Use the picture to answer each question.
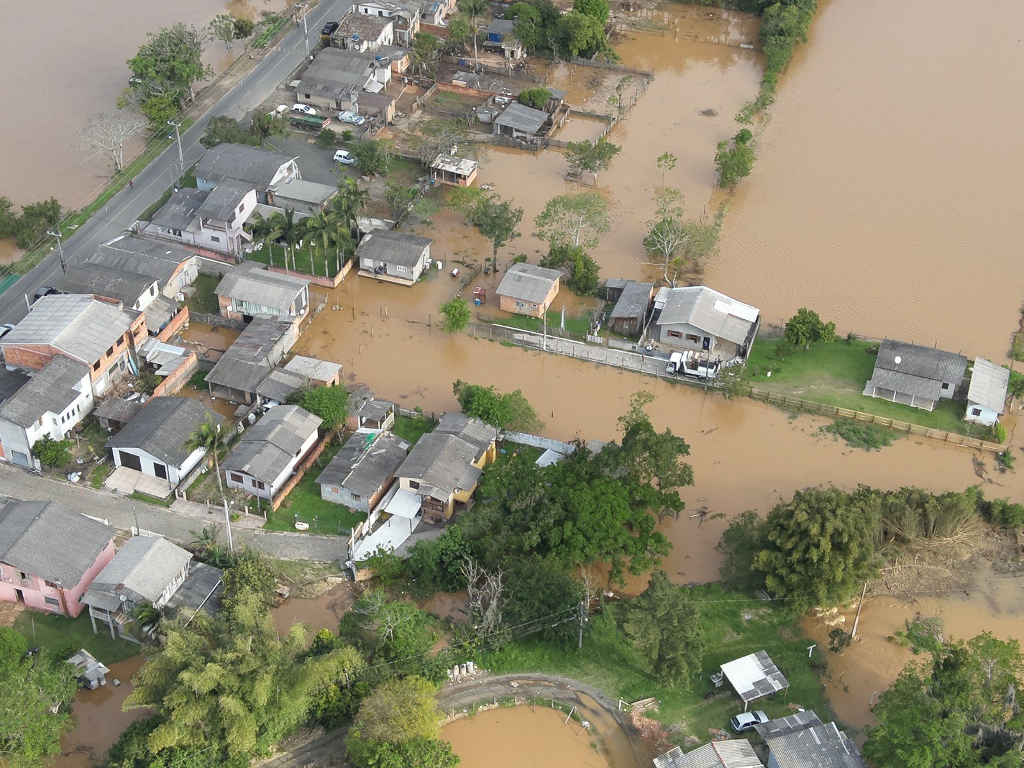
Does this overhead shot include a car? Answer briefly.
Yes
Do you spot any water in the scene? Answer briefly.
Yes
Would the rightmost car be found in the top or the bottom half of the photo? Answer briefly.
bottom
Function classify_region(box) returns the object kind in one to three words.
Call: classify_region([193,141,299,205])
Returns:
house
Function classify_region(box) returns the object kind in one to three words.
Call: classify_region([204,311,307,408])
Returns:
building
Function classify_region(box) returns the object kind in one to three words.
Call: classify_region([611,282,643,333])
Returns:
shed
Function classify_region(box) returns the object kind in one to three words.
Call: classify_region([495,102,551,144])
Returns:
house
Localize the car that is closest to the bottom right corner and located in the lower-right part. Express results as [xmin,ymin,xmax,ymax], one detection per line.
[732,709,770,732]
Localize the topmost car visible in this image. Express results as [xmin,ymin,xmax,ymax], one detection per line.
[319,18,342,32]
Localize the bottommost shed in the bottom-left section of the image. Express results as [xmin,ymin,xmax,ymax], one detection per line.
[67,649,108,691]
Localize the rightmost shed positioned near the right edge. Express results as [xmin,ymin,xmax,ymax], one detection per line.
[966,358,1013,427]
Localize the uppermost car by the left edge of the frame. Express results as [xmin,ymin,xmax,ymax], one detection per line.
[27,281,58,299]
